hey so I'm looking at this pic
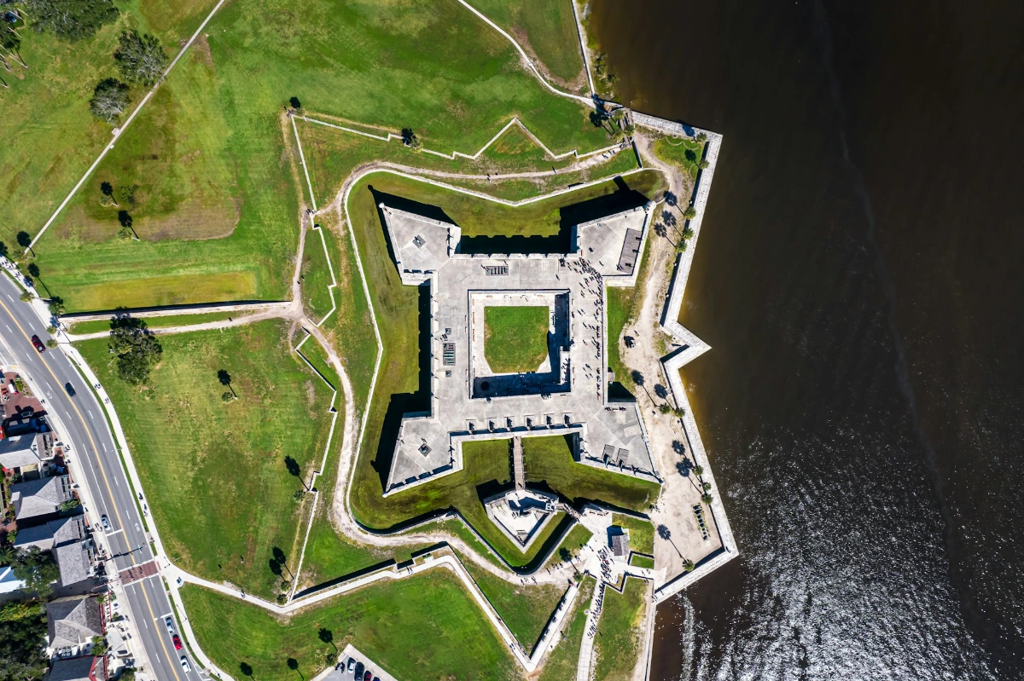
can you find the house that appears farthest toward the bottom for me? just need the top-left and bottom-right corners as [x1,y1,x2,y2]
[44,650,110,681]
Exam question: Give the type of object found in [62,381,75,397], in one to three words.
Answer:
vehicle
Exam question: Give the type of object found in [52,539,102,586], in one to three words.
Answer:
house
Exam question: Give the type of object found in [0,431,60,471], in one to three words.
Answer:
house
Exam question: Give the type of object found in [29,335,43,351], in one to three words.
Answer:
car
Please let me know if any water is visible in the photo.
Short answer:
Yes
